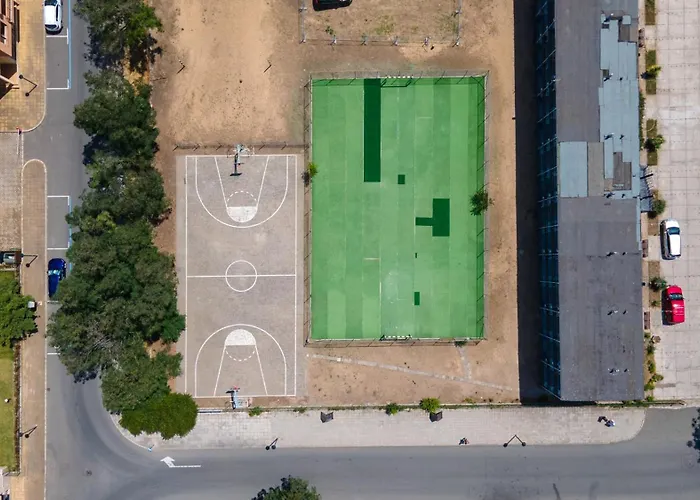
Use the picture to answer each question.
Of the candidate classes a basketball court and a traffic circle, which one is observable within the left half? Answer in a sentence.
The feature located within the left half is a basketball court.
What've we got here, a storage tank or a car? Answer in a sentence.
It is a car that can be seen here.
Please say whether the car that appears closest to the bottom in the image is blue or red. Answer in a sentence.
From above, the car that appears closest to the bottom appears red.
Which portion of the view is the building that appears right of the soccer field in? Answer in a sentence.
Look in the right portion of the view to spot the building that appears right of the soccer field.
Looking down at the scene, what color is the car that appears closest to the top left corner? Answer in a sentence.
The car that appears closest to the top left corner is white.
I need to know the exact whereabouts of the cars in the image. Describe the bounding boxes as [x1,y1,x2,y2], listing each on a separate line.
[45,259,66,298]
[659,221,682,259]
[314,0,353,8]
[42,0,64,31]
[660,286,682,324]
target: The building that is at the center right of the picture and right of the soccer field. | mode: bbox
[534,0,657,402]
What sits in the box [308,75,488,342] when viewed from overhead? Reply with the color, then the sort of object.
green soccer field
